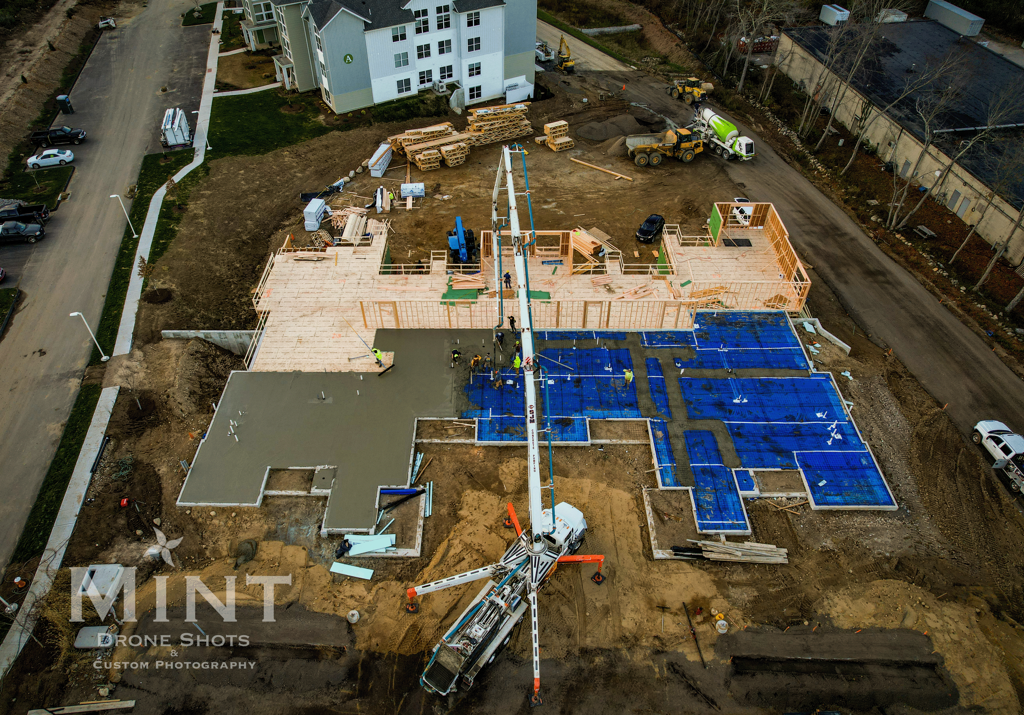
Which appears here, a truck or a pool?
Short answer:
truck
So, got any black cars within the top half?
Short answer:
Yes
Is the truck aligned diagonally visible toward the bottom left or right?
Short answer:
right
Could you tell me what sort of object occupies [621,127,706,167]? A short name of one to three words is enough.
truck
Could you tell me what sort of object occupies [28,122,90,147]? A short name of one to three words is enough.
truck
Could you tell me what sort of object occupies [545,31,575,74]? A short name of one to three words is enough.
work vehicle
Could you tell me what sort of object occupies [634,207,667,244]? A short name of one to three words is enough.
car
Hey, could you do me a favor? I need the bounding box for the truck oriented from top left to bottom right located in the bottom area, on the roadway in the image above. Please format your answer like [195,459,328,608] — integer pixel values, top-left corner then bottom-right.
[974,421,1024,501]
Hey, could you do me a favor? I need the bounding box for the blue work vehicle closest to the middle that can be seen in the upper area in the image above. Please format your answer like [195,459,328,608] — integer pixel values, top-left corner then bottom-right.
[446,207,477,272]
